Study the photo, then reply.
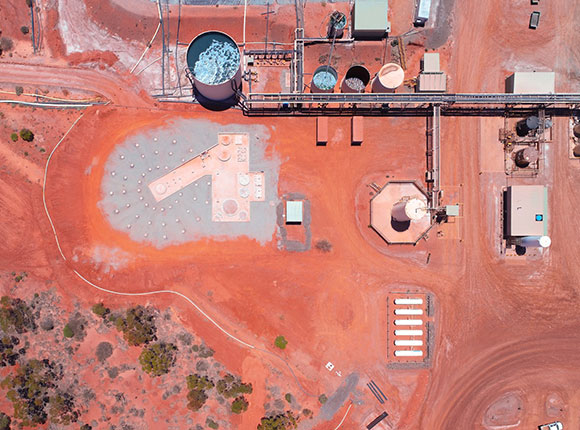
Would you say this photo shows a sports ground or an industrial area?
industrial area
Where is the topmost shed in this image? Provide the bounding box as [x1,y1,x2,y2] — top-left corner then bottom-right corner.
[353,0,388,36]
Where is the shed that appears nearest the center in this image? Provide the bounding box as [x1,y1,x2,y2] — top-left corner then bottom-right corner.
[287,201,304,222]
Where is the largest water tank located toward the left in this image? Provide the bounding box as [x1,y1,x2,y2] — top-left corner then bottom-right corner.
[186,32,245,101]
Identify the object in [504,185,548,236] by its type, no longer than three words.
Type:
building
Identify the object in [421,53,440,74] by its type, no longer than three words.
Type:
building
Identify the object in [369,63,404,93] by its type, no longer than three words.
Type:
storage tank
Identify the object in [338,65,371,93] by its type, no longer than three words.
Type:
storage tank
